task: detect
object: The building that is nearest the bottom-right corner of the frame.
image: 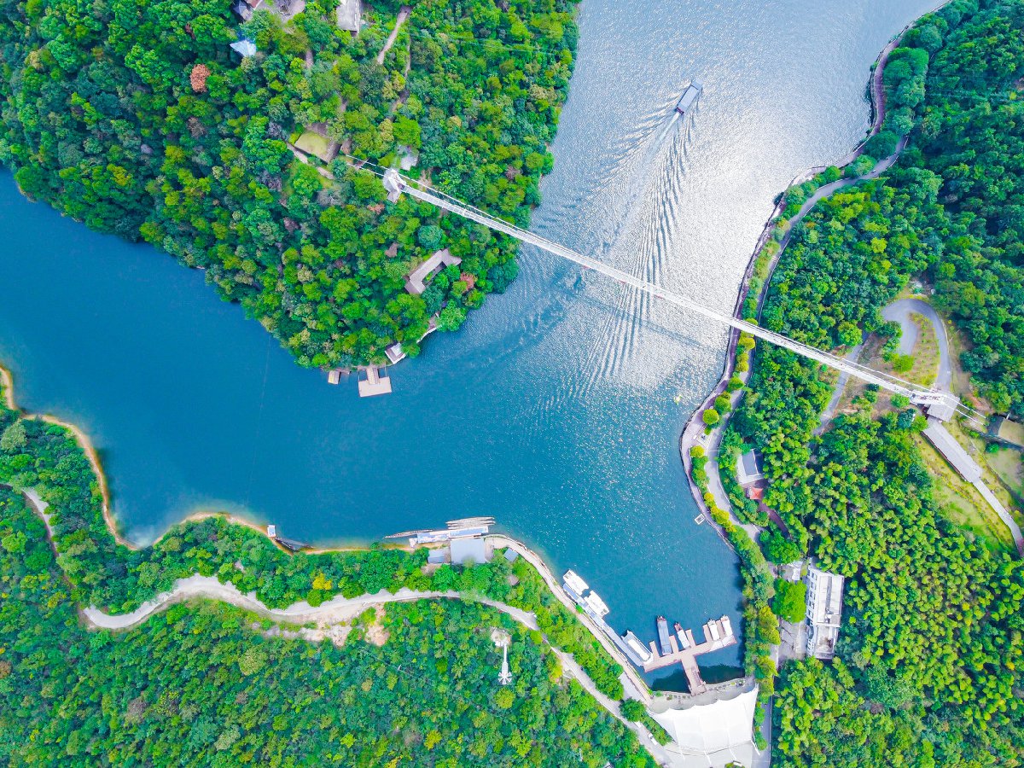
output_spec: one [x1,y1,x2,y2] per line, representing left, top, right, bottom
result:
[805,567,845,659]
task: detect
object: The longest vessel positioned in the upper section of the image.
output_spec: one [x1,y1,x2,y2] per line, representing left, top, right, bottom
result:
[677,76,706,112]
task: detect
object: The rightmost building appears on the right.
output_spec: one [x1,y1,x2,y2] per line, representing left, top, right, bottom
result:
[984,418,1024,447]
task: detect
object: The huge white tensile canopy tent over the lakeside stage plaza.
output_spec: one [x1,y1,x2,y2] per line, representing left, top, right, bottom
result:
[652,682,759,766]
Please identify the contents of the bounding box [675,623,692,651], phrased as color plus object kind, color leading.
white boat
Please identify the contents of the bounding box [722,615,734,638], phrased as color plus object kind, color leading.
white boat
